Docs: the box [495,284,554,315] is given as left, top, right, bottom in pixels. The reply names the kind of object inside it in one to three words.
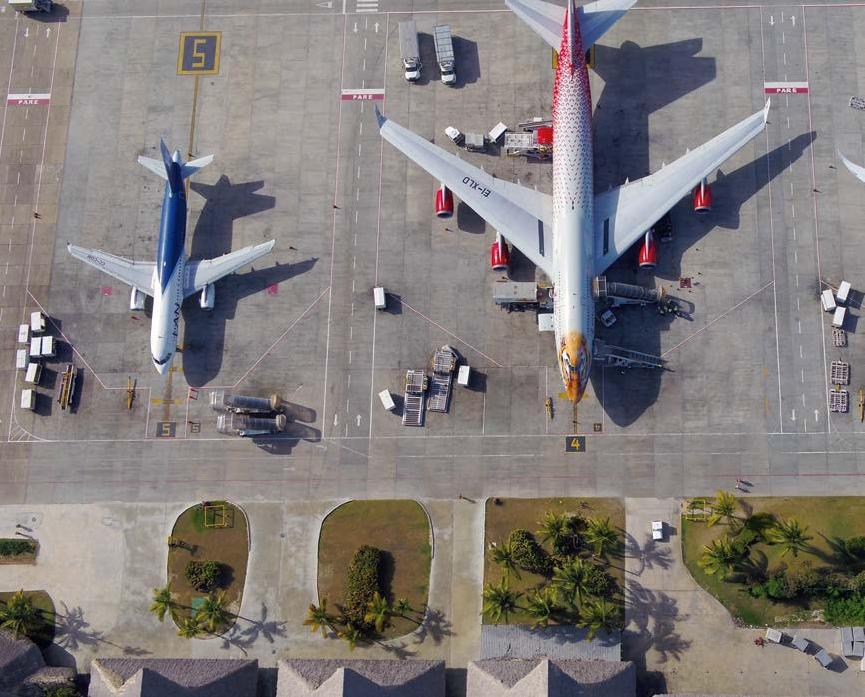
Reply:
truck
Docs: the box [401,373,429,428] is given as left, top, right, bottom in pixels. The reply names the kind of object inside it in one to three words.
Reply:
work vehicle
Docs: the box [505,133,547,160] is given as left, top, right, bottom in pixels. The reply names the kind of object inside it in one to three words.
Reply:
work vehicle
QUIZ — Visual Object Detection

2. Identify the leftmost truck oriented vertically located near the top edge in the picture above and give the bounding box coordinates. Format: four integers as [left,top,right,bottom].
[397,28,419,85]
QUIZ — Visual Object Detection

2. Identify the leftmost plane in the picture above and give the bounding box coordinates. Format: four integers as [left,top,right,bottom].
[66,137,274,373]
